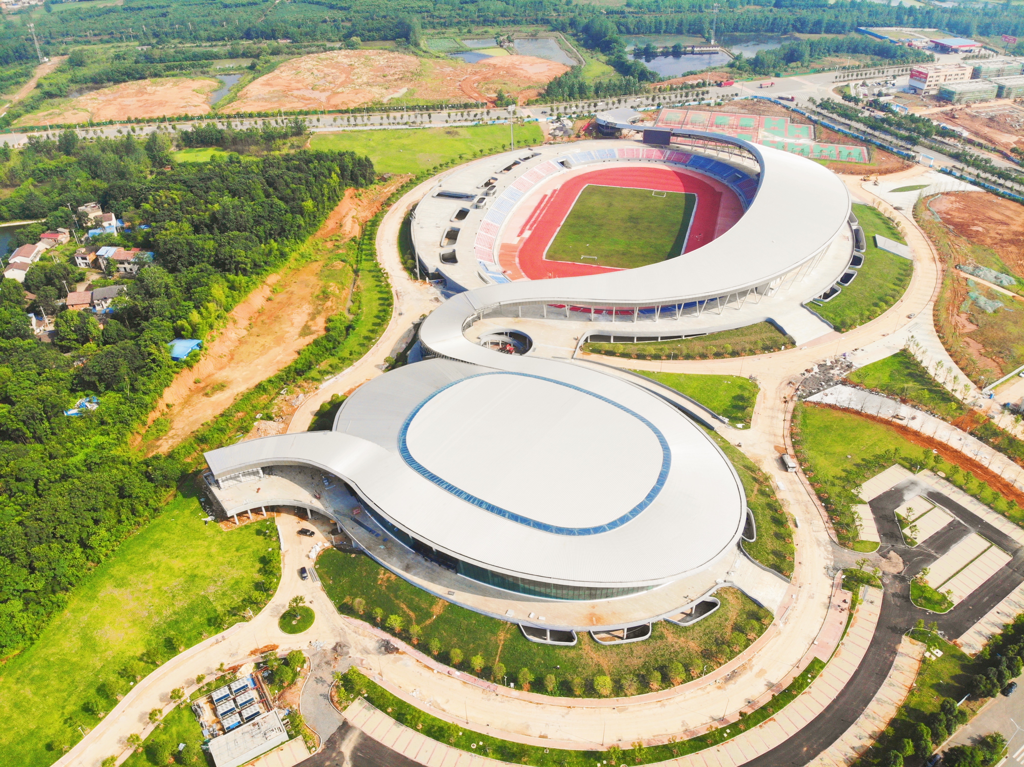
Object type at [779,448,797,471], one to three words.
vehicle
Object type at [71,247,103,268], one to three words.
house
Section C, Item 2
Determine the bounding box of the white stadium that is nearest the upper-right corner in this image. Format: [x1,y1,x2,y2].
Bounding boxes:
[411,108,913,360]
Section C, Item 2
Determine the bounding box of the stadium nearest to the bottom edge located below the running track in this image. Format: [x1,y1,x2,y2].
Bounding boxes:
[201,292,792,646]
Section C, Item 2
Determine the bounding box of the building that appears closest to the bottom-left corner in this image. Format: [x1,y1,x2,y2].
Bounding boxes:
[205,707,296,767]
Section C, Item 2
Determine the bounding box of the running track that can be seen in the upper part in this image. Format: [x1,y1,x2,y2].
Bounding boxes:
[519,168,723,279]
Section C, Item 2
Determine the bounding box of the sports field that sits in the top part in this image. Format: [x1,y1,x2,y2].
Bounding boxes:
[547,185,696,270]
